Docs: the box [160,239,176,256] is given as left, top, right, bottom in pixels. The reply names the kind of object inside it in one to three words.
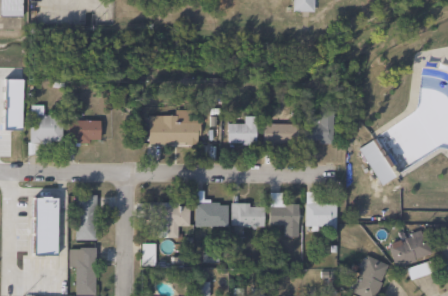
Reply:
swimming pool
